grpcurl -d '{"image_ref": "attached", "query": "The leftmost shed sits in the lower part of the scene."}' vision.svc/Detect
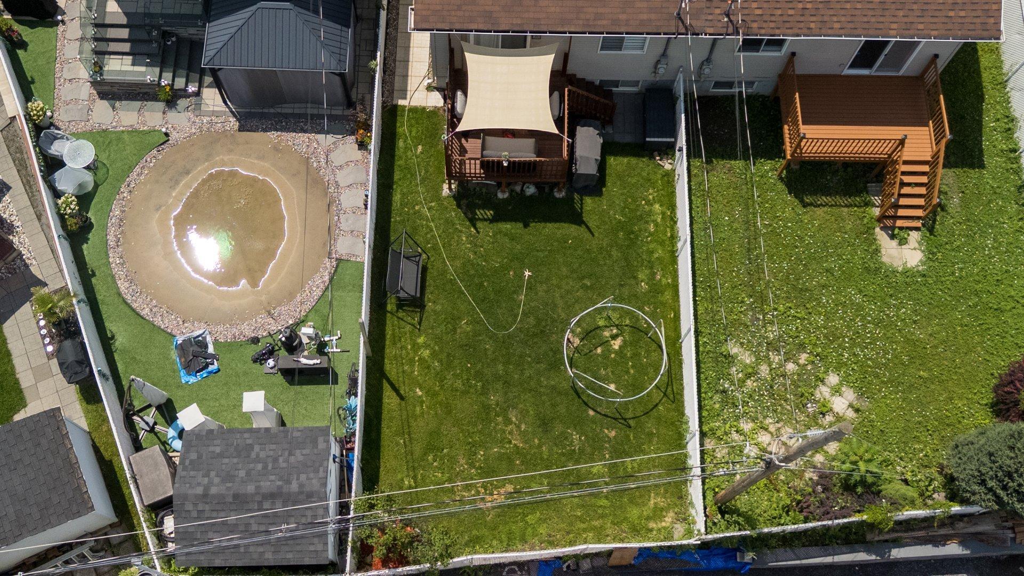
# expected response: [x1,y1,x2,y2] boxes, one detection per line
[0,407,117,569]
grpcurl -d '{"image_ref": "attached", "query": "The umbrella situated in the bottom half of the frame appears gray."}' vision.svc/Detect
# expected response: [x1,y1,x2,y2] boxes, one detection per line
[124,377,171,441]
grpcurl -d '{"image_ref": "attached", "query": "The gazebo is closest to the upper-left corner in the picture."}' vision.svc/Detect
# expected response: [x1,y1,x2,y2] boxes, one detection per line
[200,0,363,114]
